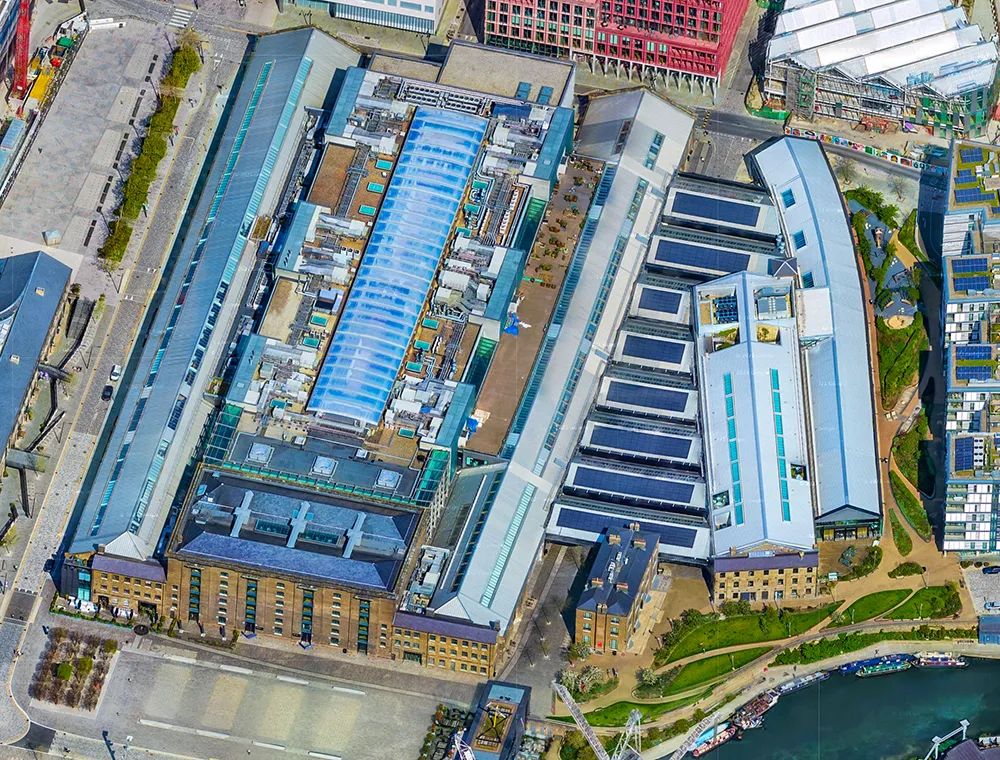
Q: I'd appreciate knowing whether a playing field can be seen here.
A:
Yes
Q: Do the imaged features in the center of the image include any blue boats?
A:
No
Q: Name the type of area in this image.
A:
industrial area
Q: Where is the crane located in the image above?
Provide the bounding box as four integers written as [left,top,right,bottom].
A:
[8,0,31,104]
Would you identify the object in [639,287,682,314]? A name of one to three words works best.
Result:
solar panel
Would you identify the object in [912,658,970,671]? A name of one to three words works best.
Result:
boat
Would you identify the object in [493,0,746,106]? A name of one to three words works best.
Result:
building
